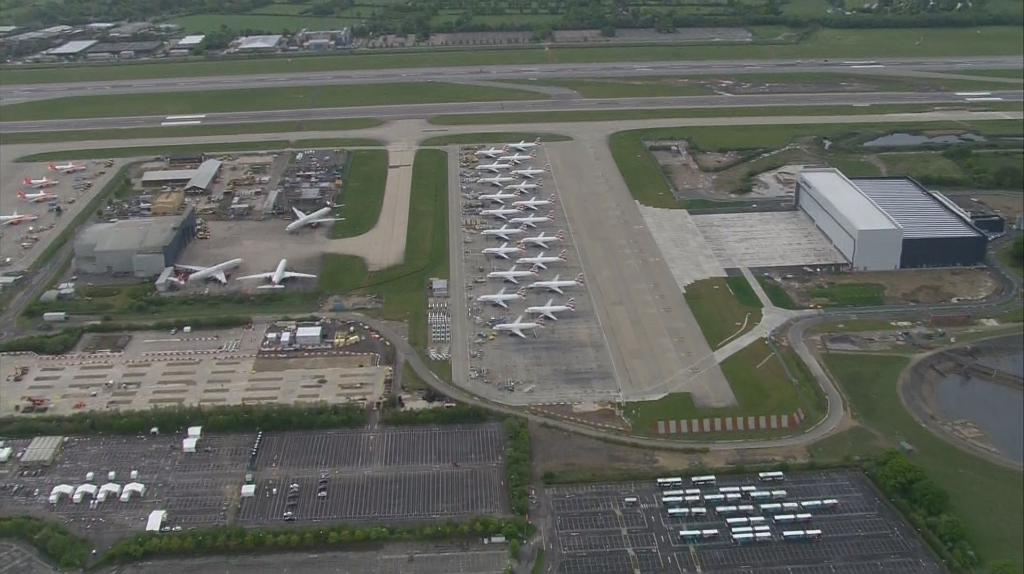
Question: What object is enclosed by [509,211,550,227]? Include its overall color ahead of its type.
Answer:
white airplane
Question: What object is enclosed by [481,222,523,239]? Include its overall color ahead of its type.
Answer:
white airplane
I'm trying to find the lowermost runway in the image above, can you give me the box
[0,90,1024,132]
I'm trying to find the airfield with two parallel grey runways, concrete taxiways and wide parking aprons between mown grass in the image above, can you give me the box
[0,56,1024,408]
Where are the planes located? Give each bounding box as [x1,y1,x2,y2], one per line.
[287,197,338,232]
[505,177,543,192]
[516,249,561,268]
[238,259,313,287]
[509,211,550,227]
[513,163,546,177]
[475,144,505,157]
[507,137,537,149]
[482,240,526,258]
[525,298,576,320]
[174,259,242,284]
[529,274,578,294]
[475,158,511,172]
[24,175,59,188]
[480,202,520,218]
[498,150,532,163]
[51,161,86,173]
[525,229,565,247]
[477,285,526,307]
[519,194,552,209]
[21,189,57,202]
[479,188,517,203]
[481,222,523,239]
[478,171,515,185]
[493,315,545,337]
[487,264,534,283]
